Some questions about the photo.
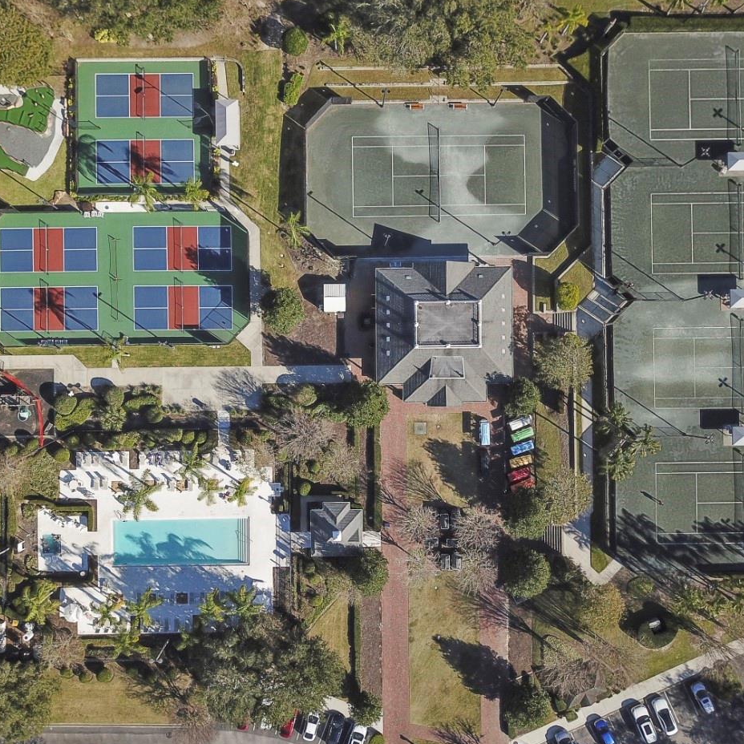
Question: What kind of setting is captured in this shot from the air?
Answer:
sports ground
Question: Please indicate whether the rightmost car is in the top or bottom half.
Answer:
bottom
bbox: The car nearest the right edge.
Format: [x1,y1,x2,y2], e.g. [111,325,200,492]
[689,681,714,714]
